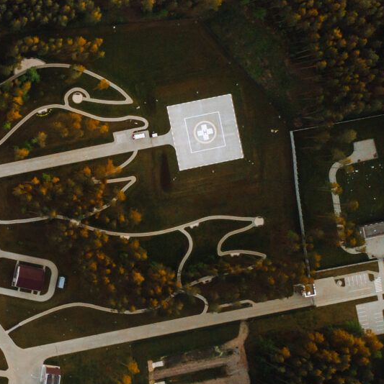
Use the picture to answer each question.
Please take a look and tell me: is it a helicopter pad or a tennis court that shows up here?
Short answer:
helicopter pad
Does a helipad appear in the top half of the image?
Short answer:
Yes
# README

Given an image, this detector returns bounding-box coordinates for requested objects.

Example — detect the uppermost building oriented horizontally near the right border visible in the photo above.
[358,222,384,237]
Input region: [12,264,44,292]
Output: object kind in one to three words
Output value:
house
